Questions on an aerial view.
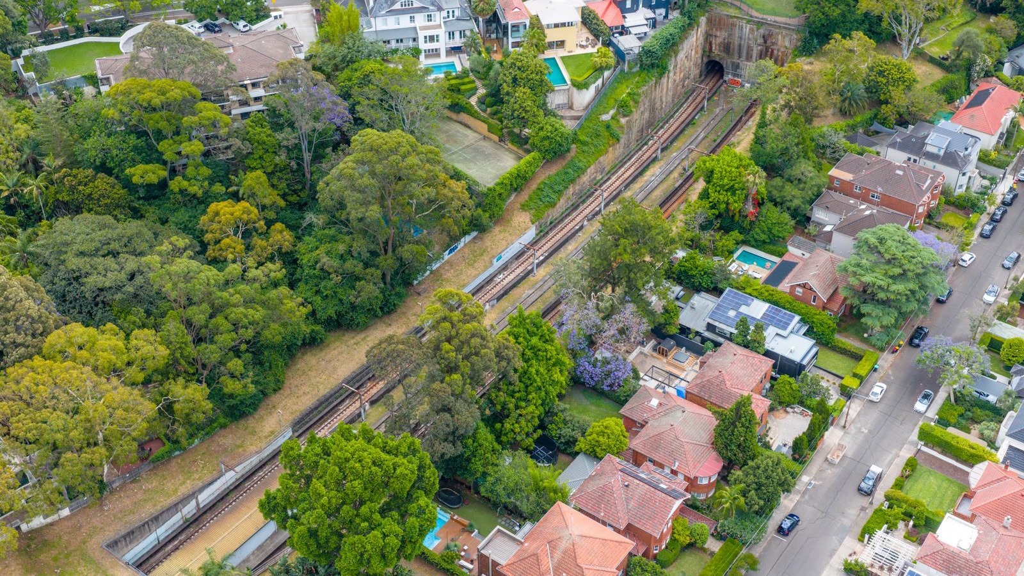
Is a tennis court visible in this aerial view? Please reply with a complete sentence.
Yes, the frame does contain a tennis court.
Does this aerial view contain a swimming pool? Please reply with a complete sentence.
Yes, there's a swimming pool here.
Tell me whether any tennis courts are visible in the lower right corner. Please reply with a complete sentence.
No, looking in the lower right corner, there is no tennis court.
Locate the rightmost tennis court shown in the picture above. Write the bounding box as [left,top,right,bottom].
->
[411,122,522,188]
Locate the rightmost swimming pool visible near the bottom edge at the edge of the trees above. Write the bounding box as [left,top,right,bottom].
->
[420,509,452,552]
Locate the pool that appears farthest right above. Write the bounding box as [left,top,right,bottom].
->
[927,108,956,122]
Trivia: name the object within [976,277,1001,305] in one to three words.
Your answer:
car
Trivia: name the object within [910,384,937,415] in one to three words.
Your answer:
car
